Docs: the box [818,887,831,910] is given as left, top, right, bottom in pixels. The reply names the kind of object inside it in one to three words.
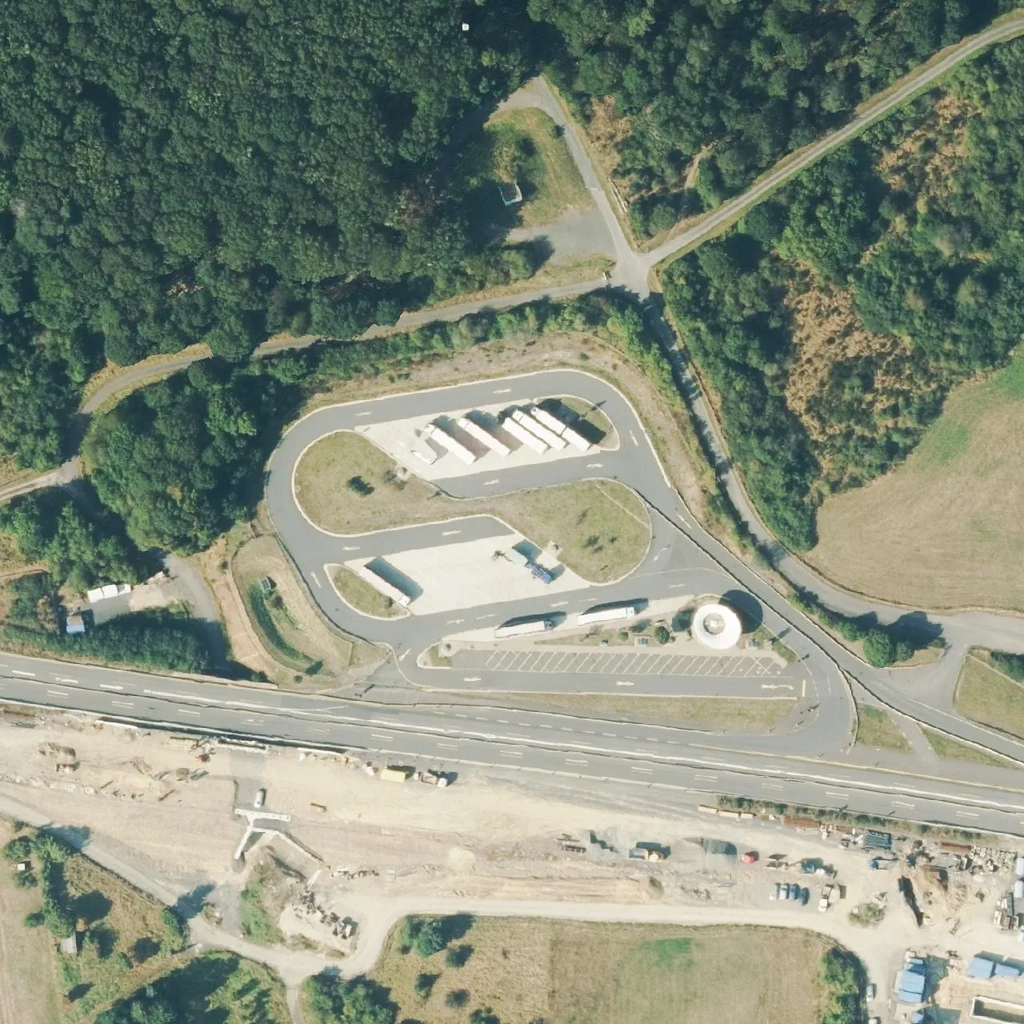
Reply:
vehicle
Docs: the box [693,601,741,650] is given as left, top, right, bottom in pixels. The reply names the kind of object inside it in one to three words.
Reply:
building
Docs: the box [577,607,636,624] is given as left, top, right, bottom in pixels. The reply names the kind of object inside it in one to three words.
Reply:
vehicle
